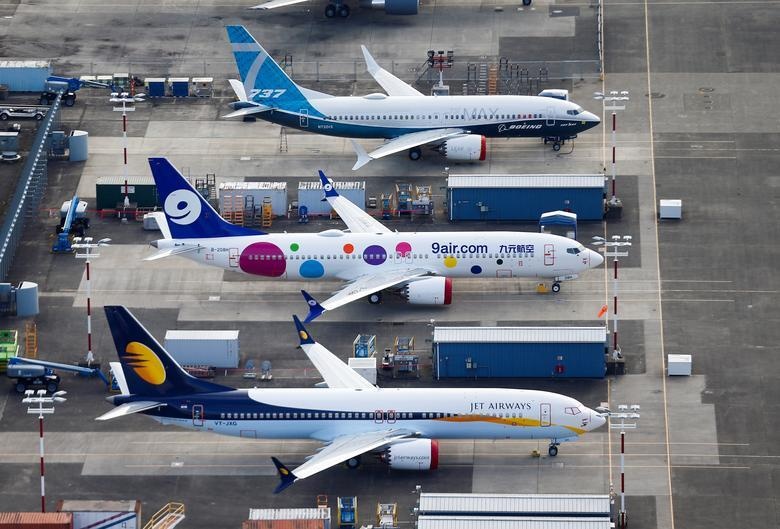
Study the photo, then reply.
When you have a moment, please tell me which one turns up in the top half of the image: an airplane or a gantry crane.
airplane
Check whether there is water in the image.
No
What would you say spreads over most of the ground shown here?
paved ground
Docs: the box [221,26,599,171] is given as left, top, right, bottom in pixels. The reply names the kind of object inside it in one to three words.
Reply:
airplane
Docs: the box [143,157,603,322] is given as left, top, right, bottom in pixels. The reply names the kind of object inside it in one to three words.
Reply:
airplane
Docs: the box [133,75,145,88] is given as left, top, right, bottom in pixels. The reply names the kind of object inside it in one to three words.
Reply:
vehicle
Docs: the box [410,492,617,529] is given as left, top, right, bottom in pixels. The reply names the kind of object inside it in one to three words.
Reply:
shed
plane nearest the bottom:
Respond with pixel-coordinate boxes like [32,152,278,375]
[99,306,607,494]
